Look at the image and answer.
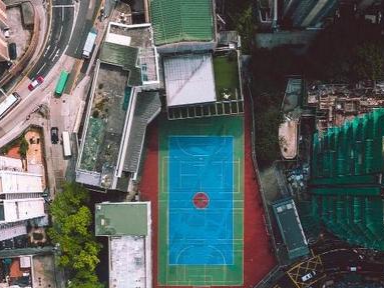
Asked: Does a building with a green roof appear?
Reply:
Yes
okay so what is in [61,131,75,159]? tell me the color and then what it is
white vehicle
